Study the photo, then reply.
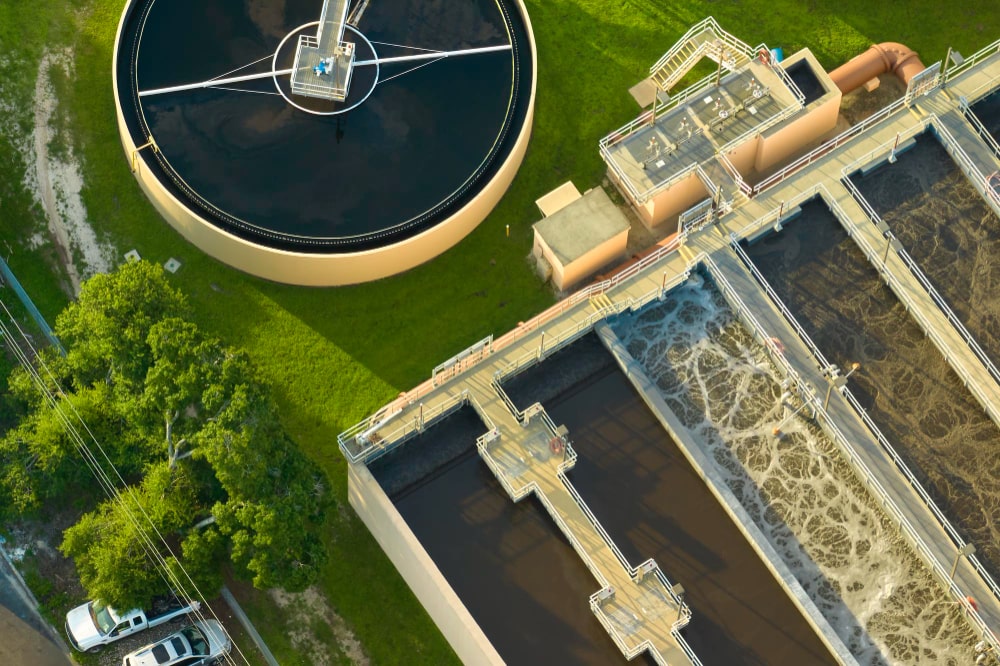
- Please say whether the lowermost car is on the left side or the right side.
left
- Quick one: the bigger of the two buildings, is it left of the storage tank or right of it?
right of it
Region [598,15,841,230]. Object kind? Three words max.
building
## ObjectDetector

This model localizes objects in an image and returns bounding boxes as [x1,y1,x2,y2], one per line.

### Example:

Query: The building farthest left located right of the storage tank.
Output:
[532,180,631,287]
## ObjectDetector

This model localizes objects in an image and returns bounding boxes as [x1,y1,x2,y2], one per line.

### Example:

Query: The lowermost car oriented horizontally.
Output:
[123,618,236,666]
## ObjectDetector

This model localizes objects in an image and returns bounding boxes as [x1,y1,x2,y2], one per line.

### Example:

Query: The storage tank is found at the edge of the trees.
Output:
[113,0,537,285]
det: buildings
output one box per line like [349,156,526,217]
[532,180,631,287]
[598,15,841,230]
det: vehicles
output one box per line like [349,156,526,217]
[63,567,207,656]
[123,618,236,666]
